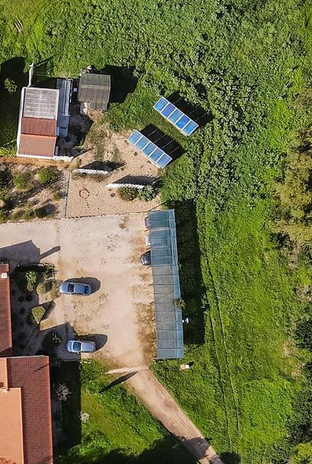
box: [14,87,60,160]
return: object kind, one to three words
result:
building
